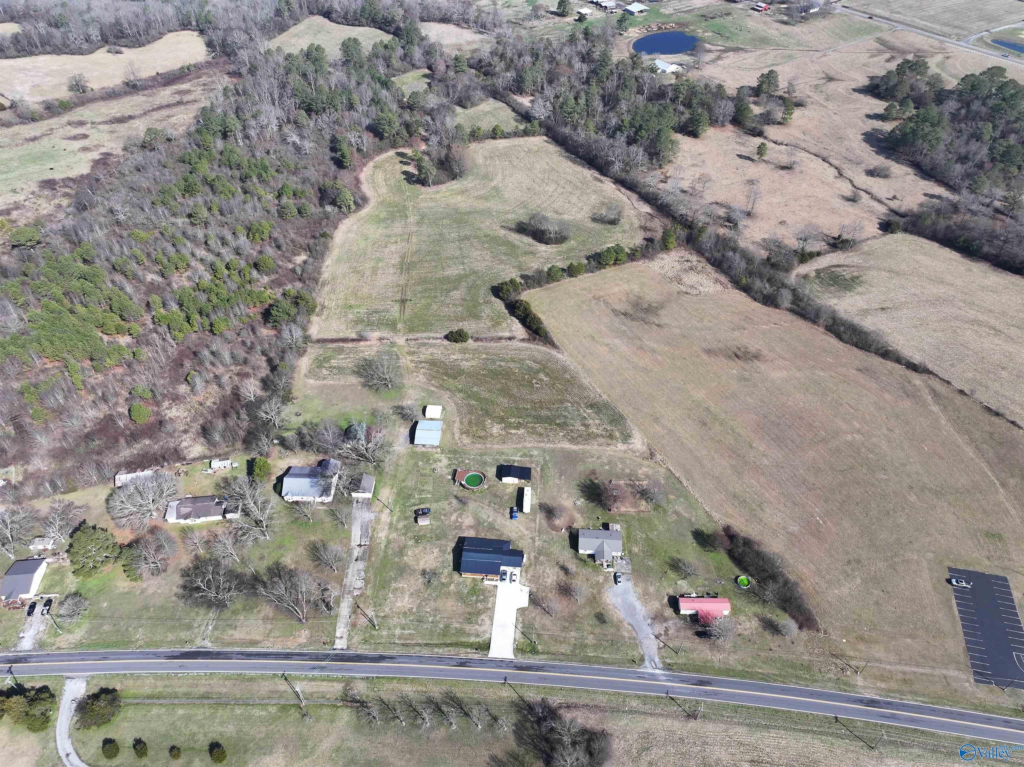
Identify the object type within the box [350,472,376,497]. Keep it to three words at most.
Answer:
building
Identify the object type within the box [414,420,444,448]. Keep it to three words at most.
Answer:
barn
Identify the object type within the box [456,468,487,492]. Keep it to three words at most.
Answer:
swimming pool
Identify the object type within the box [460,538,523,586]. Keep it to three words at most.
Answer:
house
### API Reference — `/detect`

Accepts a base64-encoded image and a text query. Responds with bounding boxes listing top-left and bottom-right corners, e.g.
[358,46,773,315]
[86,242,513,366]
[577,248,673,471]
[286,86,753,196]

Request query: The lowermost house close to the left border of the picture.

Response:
[0,558,53,610]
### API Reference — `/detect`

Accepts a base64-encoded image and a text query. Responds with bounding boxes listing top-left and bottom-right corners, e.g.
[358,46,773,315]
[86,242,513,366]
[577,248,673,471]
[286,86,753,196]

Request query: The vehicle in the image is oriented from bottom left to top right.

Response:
[37,598,55,615]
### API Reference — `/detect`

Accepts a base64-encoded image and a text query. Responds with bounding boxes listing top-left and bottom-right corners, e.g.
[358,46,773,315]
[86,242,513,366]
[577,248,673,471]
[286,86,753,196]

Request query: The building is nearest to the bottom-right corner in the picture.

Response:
[678,597,731,628]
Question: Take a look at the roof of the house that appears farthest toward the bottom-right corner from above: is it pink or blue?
pink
